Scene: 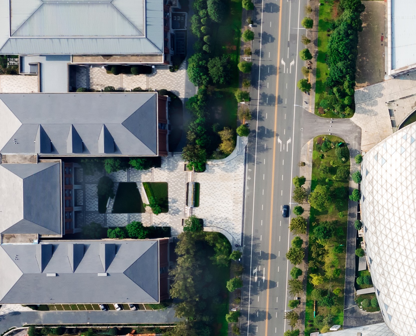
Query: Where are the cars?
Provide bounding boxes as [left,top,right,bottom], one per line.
[283,205,289,217]
[128,304,138,314]
[113,304,122,314]
[98,304,108,314]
